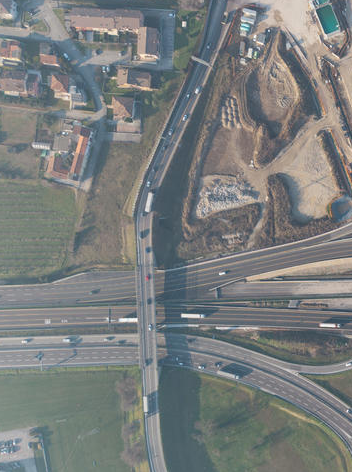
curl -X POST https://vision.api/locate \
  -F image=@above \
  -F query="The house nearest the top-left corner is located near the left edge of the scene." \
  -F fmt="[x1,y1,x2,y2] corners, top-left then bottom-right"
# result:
[0,0,25,25]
